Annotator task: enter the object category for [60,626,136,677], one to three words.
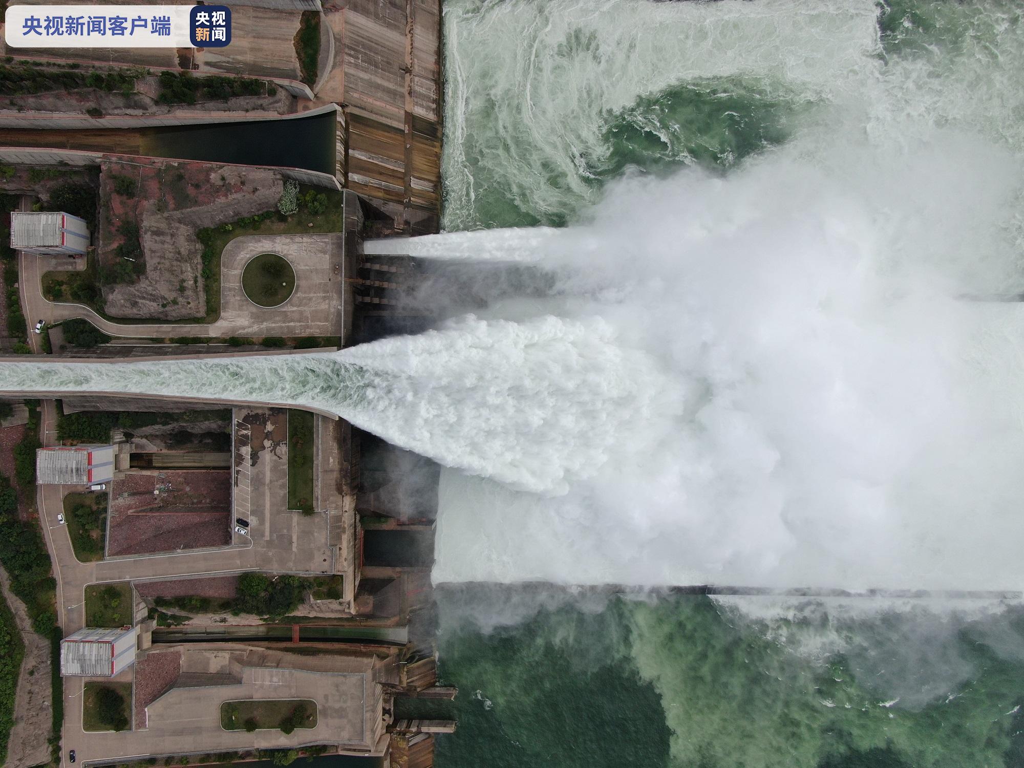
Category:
building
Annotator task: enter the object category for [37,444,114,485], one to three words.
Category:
building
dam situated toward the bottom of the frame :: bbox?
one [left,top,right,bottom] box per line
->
[320,415,371,613]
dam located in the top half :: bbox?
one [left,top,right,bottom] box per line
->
[342,192,376,349]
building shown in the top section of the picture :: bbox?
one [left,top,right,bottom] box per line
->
[10,212,90,259]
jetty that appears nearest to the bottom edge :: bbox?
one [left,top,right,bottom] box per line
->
[399,714,457,733]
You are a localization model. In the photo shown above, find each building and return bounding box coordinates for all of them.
[60,626,136,677]
[37,444,114,485]
[10,212,90,259]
